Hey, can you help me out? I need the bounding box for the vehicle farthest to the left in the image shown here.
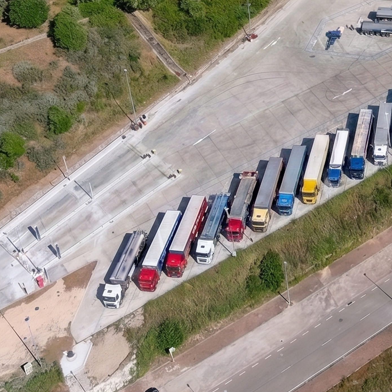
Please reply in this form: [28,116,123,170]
[103,229,151,307]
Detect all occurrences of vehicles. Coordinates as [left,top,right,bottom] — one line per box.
[224,169,257,243]
[325,22,342,45]
[250,155,284,231]
[164,196,209,277]
[371,101,392,169]
[299,133,331,205]
[146,386,158,392]
[103,229,151,307]
[192,191,231,265]
[325,129,350,188]
[376,8,392,22]
[347,109,373,180]
[137,210,183,293]
[276,144,306,219]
